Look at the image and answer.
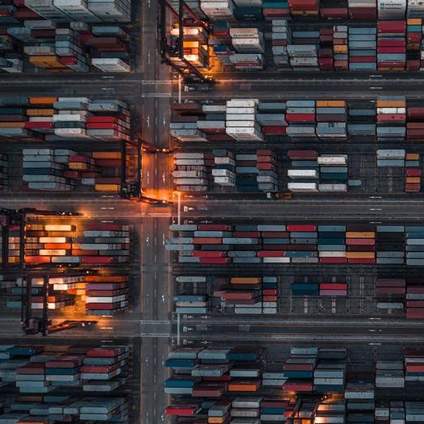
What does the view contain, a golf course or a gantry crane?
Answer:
gantry crane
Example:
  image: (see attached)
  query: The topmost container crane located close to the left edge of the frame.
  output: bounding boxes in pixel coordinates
[0,205,76,271]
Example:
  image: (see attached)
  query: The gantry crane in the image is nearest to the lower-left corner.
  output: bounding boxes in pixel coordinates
[26,270,98,333]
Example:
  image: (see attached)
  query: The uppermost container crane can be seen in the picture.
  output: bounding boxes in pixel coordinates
[159,0,215,80]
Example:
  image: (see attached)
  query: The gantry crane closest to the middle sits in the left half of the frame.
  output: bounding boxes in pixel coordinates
[113,135,175,201]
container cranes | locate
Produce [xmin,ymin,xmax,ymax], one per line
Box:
[113,135,175,201]
[159,0,215,80]
[292,393,330,424]
[0,205,76,271]
[26,270,98,333]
